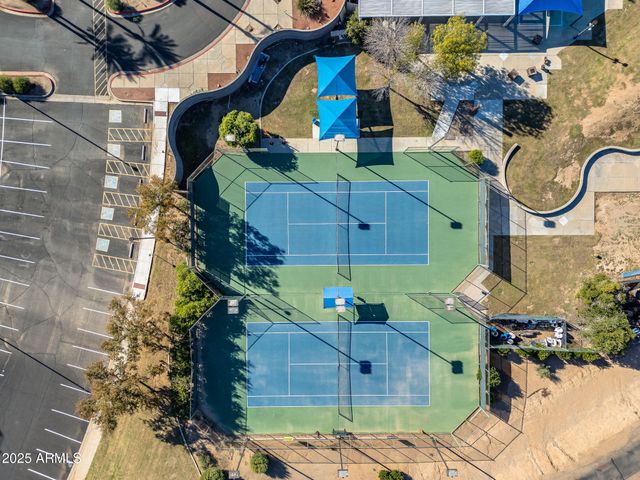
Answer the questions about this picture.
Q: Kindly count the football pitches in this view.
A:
zero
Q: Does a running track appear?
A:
No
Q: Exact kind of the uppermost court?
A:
tennis court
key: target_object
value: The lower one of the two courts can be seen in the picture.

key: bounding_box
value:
[198,293,479,436]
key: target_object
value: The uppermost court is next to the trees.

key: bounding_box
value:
[196,152,478,294]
